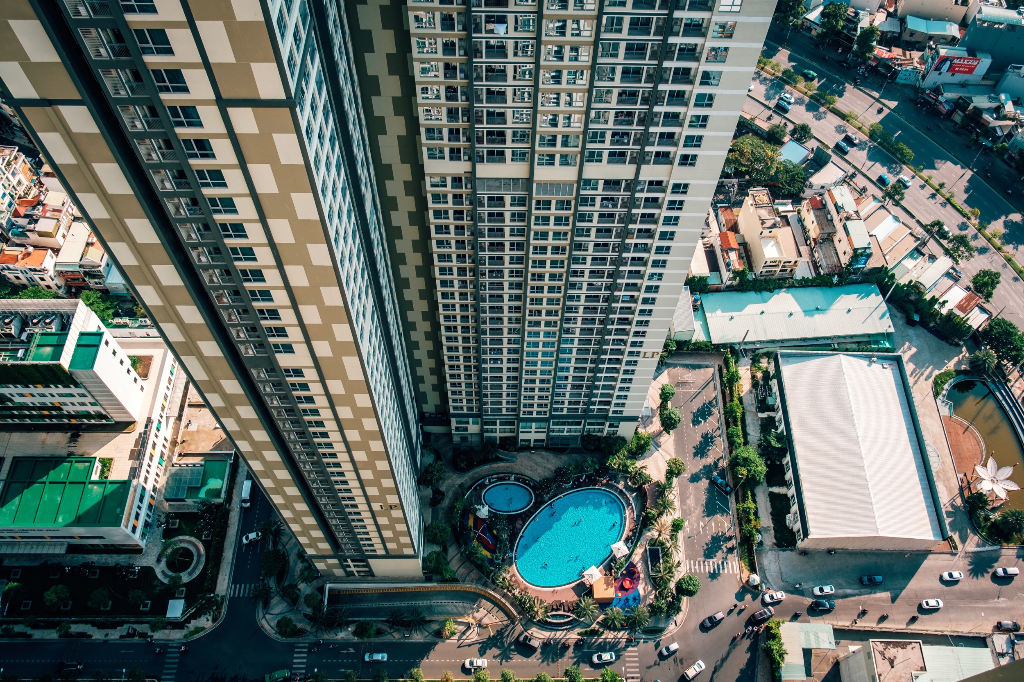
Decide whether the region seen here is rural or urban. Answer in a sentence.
The area is urban.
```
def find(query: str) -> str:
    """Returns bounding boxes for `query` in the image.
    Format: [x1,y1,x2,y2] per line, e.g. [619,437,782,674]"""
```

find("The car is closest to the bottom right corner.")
[996,620,1023,632]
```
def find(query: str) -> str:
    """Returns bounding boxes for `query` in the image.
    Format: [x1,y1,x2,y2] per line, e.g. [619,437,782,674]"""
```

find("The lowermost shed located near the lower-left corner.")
[167,599,189,620]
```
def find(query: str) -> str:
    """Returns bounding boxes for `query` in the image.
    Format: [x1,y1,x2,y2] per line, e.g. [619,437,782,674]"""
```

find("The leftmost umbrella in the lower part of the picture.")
[475,505,488,519]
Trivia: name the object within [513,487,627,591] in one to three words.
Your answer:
swimming pool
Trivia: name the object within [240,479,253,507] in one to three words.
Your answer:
vehicle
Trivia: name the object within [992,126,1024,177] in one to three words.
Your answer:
house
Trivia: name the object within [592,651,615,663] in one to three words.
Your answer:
vehicle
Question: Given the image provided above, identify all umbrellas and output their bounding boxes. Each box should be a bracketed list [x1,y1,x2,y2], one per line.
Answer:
[582,565,602,584]
[611,541,629,559]
[748,574,760,586]
[475,505,488,519]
